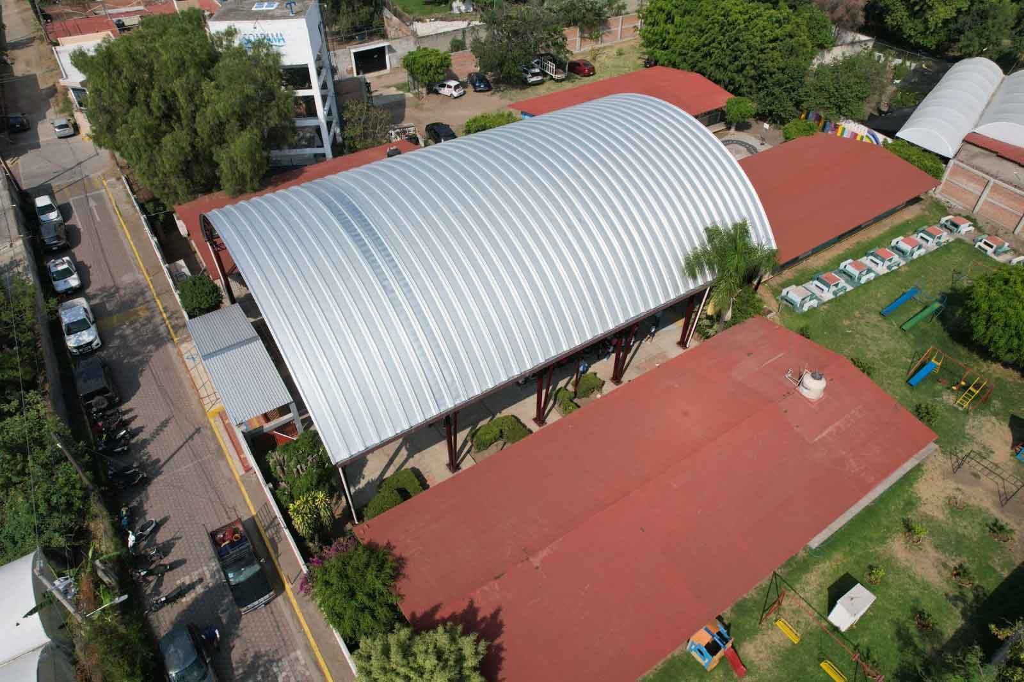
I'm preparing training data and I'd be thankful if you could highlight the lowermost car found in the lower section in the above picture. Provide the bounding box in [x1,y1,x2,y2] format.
[160,615,228,682]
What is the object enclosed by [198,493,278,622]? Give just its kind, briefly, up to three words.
truck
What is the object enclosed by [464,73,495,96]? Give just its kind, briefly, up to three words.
car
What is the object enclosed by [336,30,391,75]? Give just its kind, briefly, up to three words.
building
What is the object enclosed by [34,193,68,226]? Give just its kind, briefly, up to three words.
van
